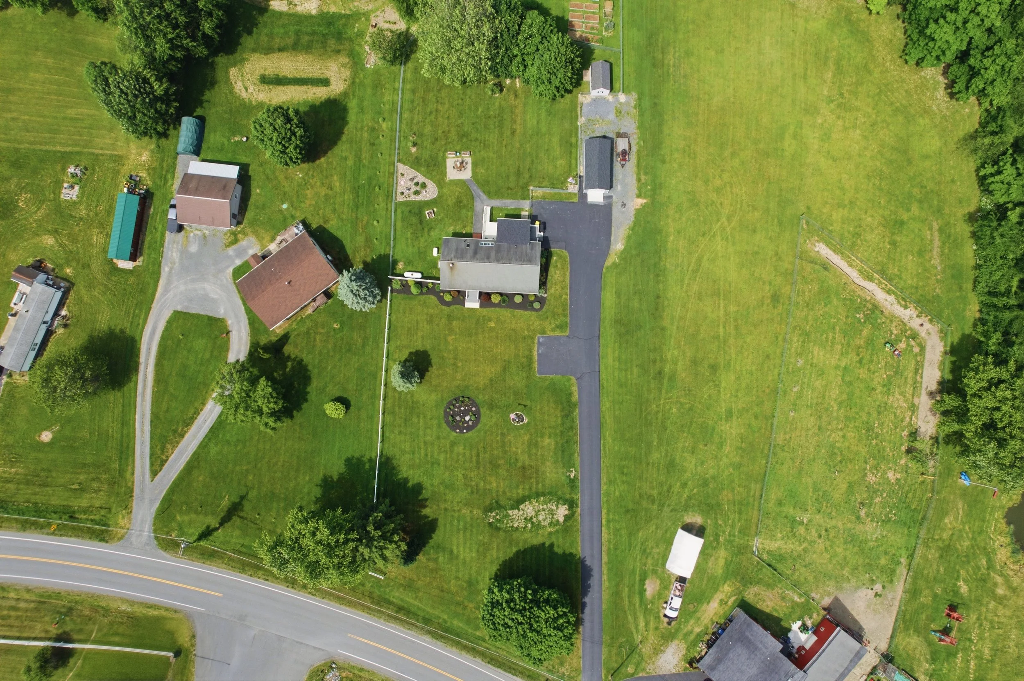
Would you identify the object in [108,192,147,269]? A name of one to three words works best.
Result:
shed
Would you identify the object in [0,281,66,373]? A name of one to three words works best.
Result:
house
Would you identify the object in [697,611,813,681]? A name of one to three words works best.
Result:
barn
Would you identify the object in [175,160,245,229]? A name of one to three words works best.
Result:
building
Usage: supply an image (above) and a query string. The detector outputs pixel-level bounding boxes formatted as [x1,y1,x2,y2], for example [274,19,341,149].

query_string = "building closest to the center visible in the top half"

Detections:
[435,205,543,308]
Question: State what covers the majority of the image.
grass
